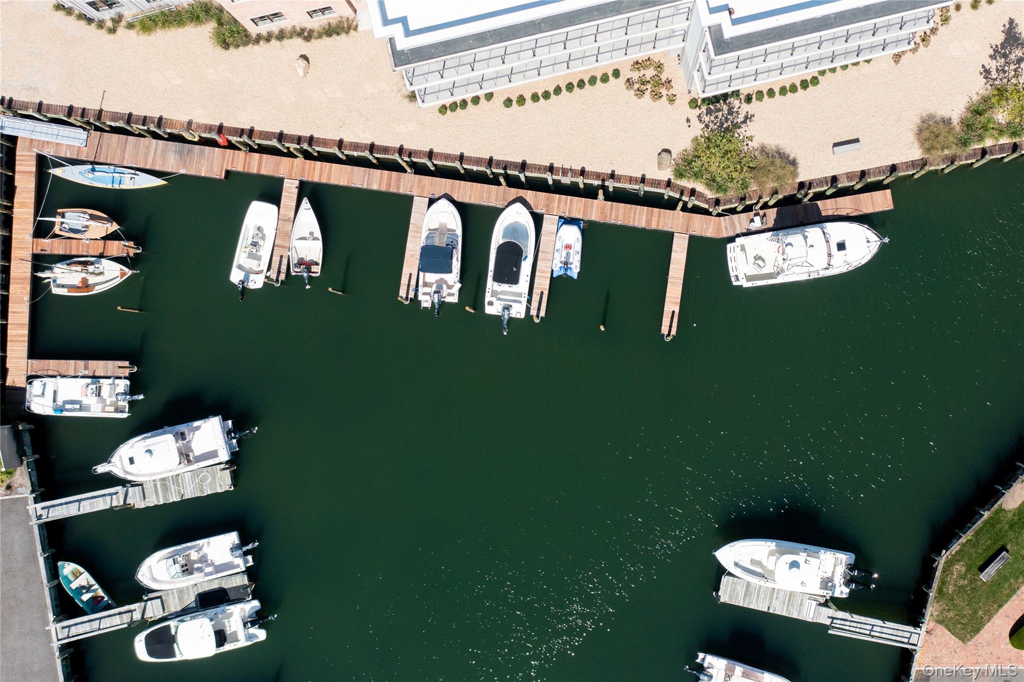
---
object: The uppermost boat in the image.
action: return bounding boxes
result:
[33,149,171,189]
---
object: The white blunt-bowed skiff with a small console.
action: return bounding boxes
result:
[231,201,279,300]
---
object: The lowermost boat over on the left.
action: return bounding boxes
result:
[133,599,276,661]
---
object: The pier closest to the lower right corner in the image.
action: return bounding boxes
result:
[720,575,820,623]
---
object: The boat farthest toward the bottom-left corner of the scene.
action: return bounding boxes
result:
[58,562,118,613]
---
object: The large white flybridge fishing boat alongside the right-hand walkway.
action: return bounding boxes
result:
[726,219,889,288]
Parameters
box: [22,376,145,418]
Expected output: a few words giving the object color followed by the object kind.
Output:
white boat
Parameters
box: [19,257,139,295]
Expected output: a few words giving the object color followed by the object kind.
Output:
white boat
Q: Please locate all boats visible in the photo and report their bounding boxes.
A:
[22,376,145,418]
[133,531,257,590]
[231,201,279,300]
[726,219,889,288]
[19,257,139,295]
[133,599,276,661]
[551,224,583,277]
[58,562,118,613]
[687,653,791,682]
[291,197,323,287]
[87,415,258,481]
[712,539,875,597]
[485,202,536,333]
[33,149,171,189]
[419,197,462,316]
[37,208,121,239]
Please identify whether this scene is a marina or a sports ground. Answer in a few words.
marina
